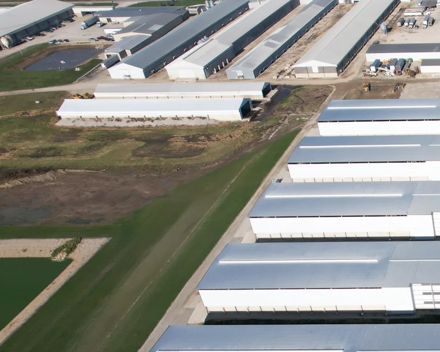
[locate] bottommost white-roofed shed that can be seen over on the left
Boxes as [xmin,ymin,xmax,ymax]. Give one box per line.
[55,99,254,119]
